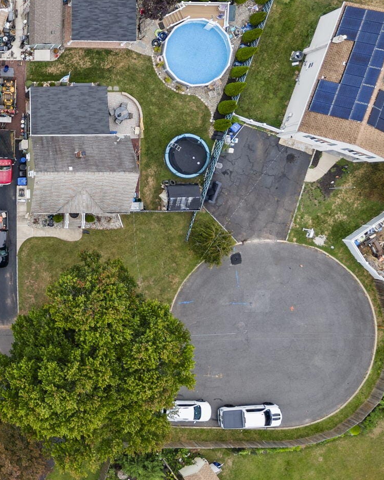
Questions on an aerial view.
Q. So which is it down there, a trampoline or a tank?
trampoline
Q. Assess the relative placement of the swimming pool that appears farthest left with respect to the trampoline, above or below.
above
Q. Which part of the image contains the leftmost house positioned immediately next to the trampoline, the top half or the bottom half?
top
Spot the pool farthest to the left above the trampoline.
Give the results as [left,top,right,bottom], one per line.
[160,18,232,89]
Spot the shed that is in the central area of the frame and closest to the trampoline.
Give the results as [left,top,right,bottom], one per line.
[162,183,202,210]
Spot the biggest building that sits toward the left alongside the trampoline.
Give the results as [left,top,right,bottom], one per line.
[27,85,139,216]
